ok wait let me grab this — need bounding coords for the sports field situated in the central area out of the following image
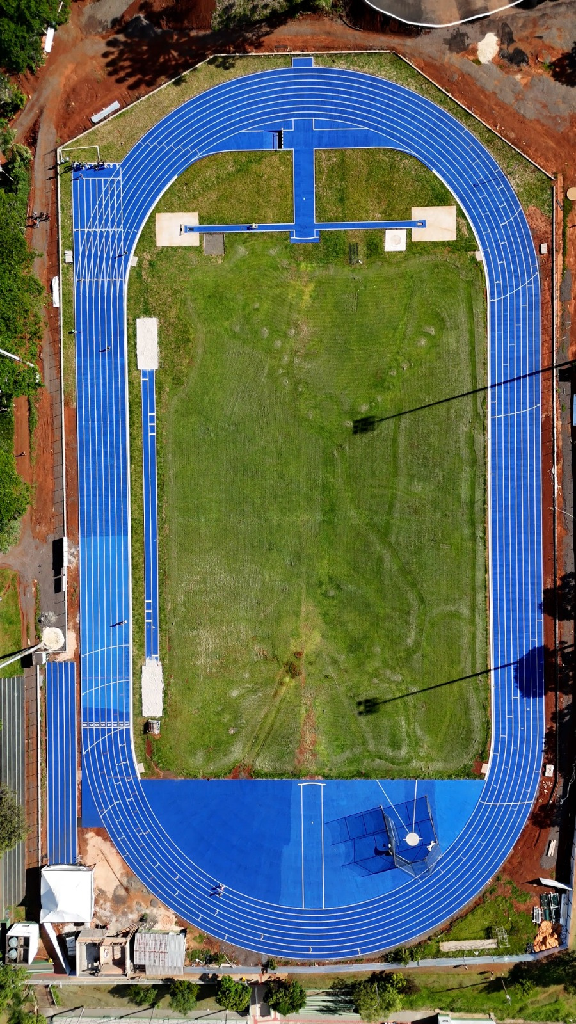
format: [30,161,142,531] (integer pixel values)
[129,148,493,778]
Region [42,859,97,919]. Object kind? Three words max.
tent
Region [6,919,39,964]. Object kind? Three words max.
house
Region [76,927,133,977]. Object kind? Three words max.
building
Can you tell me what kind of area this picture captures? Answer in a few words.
sports ground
